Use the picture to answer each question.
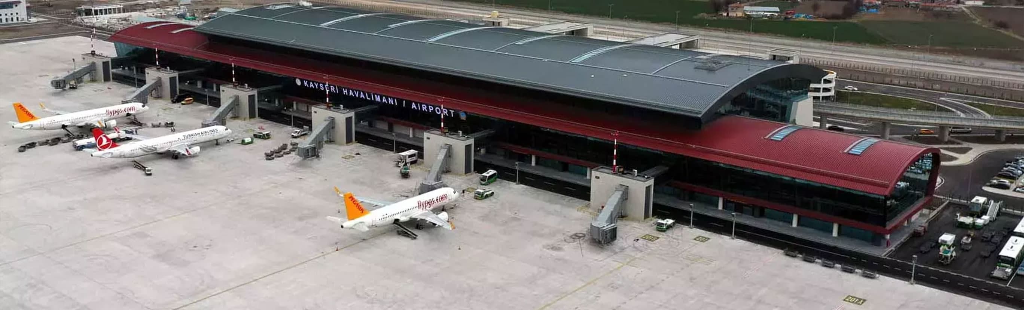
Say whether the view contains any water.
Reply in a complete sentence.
No, no water is visible.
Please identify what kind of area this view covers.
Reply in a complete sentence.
It's an airport.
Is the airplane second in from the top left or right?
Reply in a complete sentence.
The airplane second in from the top is on the left side of the image.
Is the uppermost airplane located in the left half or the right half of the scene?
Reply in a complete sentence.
The uppermost airplane is on the left side of the image.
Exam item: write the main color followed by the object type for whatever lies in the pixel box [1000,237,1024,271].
white bus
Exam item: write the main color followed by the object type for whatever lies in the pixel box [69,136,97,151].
white vehicle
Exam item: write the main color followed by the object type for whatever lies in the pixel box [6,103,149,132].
white airplane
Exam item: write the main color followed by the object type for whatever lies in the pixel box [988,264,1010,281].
gray work vehicle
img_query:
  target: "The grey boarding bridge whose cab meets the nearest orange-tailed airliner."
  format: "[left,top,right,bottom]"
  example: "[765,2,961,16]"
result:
[414,139,454,195]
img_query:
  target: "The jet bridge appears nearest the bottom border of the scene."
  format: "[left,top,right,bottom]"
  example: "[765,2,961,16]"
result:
[585,179,632,249]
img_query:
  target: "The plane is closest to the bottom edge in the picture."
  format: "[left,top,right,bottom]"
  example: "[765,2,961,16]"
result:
[326,188,459,233]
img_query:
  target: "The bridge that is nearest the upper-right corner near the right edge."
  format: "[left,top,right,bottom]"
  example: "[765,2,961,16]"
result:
[812,103,1024,141]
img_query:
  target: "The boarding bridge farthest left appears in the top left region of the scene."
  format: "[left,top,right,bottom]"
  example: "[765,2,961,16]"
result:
[48,58,97,93]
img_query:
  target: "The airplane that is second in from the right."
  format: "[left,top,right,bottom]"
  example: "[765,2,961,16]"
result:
[83,126,232,160]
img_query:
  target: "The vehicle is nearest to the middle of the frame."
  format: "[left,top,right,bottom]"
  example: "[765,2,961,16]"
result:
[478,168,500,184]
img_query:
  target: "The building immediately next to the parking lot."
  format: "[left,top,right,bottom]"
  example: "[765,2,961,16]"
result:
[109,0,942,248]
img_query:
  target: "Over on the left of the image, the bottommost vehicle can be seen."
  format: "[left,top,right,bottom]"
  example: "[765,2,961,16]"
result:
[388,220,414,246]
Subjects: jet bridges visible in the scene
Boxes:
[414,139,454,195]
[48,58,97,93]
[294,112,337,160]
[585,179,632,249]
[119,73,163,106]
[195,90,241,129]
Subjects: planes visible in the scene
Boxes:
[83,126,232,160]
[6,103,149,132]
[326,188,459,233]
